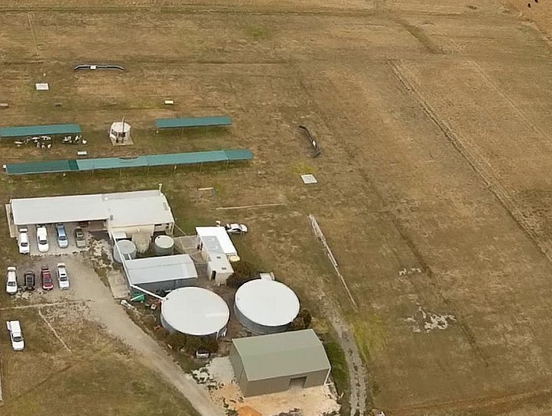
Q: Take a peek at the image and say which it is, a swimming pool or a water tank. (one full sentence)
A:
The image shows a water tank.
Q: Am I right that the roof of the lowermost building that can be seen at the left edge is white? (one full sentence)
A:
Yes, white is the color of the roof of the lowermost building that can be seen at the left edge.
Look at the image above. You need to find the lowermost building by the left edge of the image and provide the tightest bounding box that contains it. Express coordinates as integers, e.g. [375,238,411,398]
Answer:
[8,183,178,238]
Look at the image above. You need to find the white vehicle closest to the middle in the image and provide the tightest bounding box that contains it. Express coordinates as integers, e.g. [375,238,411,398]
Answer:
[225,221,251,234]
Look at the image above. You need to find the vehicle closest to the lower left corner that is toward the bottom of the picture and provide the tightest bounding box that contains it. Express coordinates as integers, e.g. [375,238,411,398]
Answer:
[5,318,25,350]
